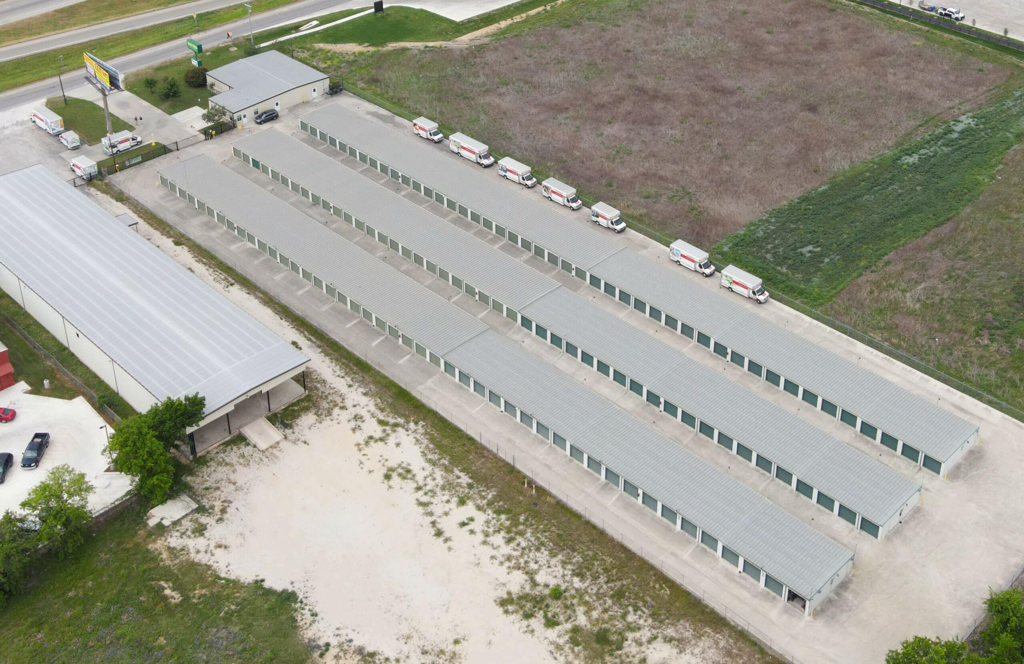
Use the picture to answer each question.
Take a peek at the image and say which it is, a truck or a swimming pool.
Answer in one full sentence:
It is a truck that can be seen here.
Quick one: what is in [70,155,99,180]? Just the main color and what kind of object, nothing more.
white truck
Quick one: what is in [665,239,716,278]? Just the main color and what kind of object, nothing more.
white truck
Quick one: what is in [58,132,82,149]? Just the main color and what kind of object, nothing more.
white vehicle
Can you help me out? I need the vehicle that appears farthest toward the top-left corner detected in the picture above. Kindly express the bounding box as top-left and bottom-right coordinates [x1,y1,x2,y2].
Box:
[31,105,64,134]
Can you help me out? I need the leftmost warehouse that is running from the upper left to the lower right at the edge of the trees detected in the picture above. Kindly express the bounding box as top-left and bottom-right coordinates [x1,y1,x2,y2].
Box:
[0,165,313,456]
